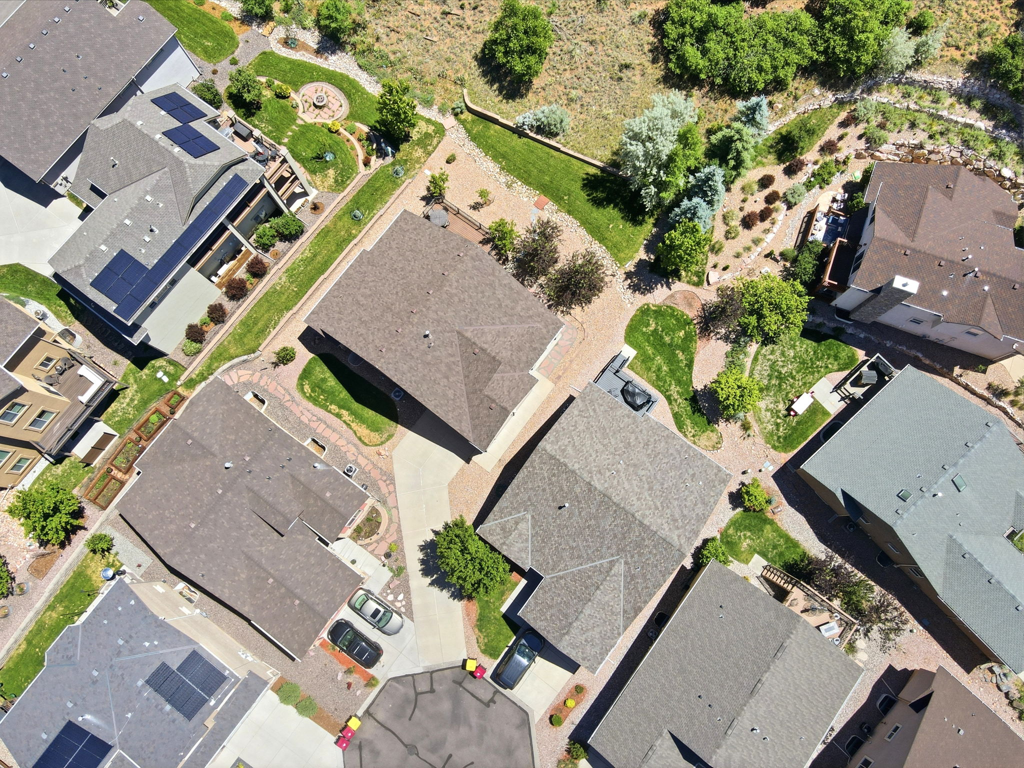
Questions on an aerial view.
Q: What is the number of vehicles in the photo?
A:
3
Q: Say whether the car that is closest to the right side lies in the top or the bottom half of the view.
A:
bottom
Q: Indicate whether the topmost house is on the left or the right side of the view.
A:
left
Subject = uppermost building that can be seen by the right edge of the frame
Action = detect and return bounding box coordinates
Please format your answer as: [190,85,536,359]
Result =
[834,161,1024,358]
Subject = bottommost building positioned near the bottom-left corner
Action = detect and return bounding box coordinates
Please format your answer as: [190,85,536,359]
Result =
[0,577,279,768]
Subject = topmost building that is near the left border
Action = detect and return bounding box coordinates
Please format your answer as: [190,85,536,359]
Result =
[0,0,192,196]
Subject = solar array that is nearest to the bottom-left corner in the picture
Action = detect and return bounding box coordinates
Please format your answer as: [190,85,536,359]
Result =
[34,721,113,768]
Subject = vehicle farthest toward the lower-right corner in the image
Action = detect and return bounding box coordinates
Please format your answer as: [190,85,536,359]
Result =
[496,623,547,696]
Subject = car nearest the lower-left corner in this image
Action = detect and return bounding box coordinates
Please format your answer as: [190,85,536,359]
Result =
[327,617,385,675]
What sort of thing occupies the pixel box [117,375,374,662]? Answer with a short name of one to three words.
house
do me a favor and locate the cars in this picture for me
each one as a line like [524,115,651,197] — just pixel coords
[348,586,408,636]
[496,623,547,696]
[327,617,385,675]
